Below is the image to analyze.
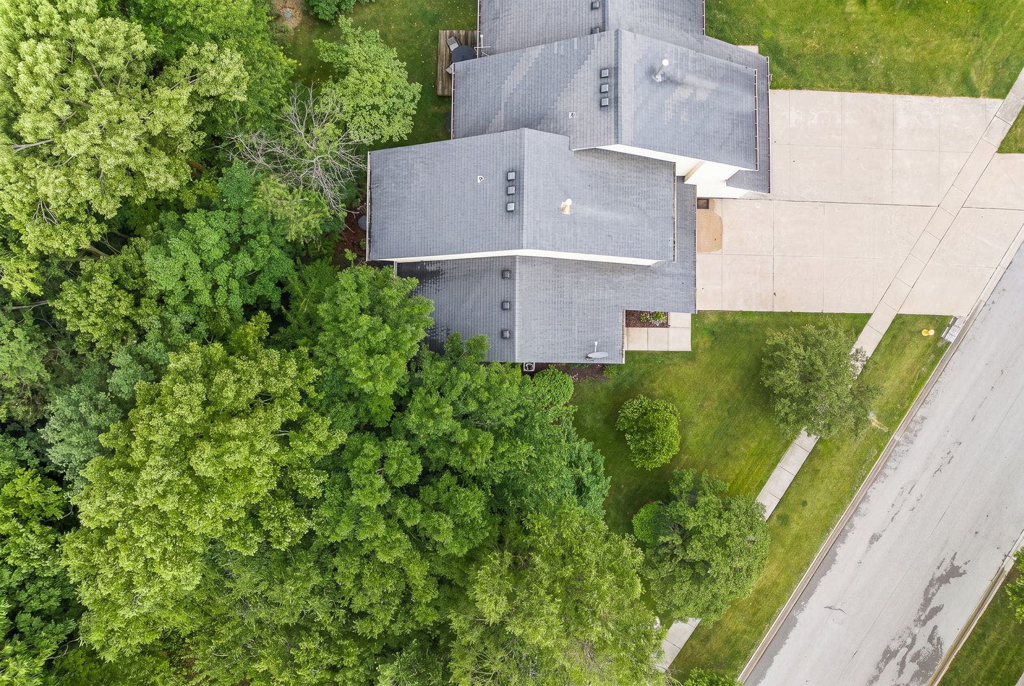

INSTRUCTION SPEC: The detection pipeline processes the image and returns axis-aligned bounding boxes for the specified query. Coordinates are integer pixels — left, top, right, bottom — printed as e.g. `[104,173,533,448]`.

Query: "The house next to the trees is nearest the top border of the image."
[453,0,770,198]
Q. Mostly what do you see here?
trees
